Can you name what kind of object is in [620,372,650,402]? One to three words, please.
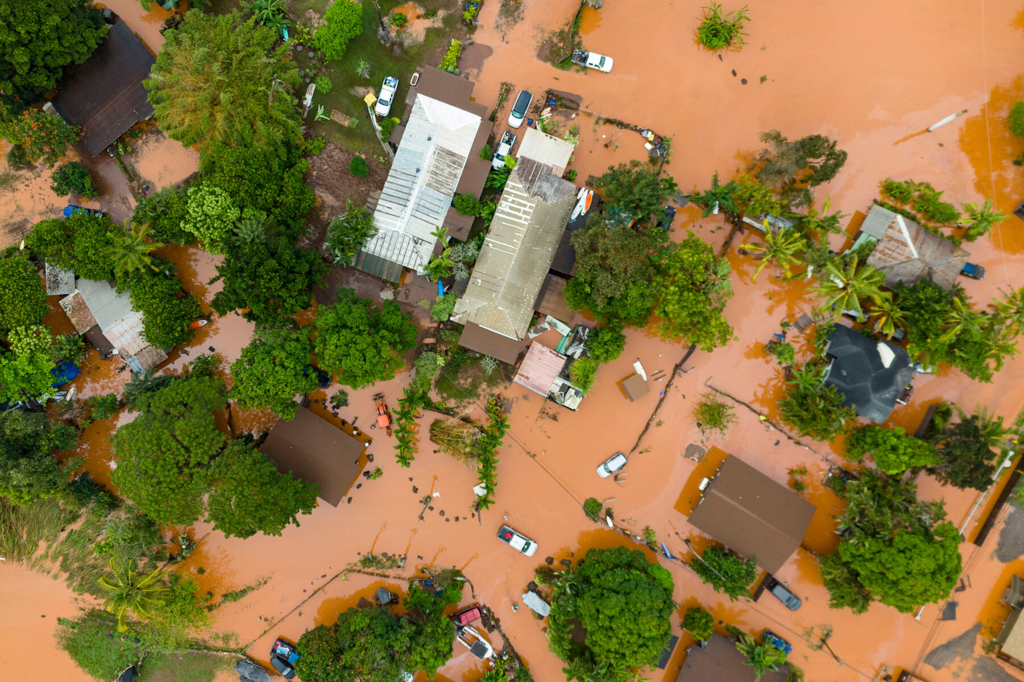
shed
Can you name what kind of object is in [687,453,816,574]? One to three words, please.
house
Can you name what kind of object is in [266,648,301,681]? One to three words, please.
car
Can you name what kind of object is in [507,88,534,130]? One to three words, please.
vehicle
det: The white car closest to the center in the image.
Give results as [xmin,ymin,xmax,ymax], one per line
[593,448,630,478]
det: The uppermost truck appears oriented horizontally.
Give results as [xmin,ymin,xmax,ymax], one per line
[569,49,613,75]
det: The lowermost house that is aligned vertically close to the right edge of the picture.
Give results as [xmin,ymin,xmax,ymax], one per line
[988,575,1024,663]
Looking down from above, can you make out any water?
Yes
